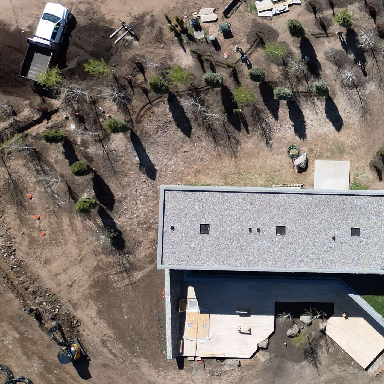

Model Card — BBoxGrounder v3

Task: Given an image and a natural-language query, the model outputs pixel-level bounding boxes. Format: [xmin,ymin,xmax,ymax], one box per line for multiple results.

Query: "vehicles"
[53,326,96,374]
[17,2,73,83]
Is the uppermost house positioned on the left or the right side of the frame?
right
